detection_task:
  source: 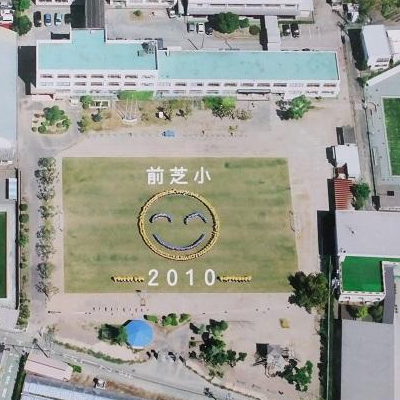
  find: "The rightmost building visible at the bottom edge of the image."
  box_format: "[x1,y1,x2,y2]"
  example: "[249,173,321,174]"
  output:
[341,322,395,400]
